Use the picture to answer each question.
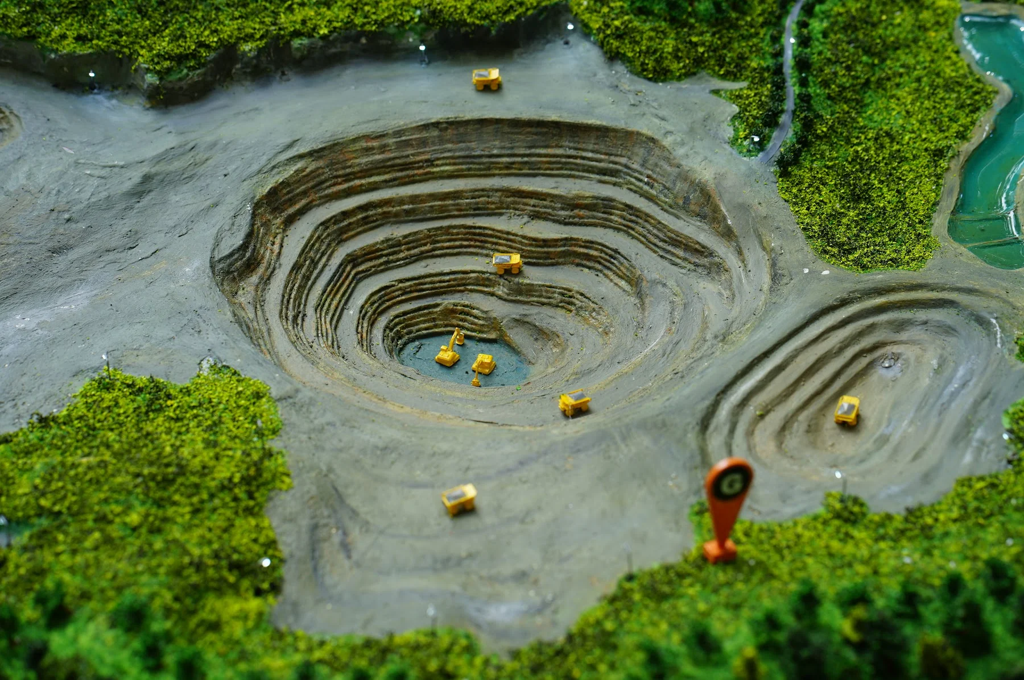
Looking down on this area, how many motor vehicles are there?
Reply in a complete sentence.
The number of motor vehicles here is 7.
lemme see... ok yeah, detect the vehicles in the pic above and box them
[558,388,590,415]
[434,332,464,369]
[494,252,521,273]
[442,485,477,515]
[837,397,859,426]
[475,69,500,89]
[471,352,497,383]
